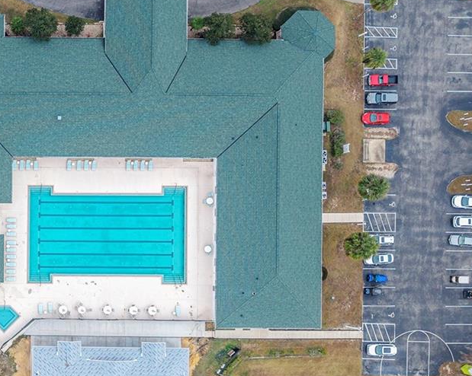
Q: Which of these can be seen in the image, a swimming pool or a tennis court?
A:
swimming pool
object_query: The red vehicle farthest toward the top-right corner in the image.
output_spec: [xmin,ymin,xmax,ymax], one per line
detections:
[366,73,398,87]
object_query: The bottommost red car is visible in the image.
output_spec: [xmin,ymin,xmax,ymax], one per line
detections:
[360,112,390,125]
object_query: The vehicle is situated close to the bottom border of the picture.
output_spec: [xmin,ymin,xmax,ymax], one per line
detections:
[366,343,398,358]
